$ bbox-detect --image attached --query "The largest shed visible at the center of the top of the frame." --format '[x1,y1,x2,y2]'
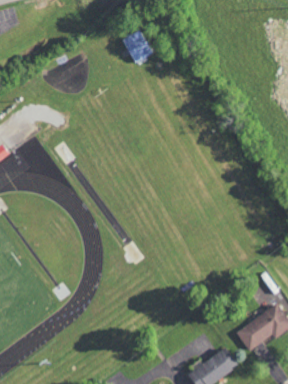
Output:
[124,30,156,64]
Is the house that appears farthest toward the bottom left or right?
right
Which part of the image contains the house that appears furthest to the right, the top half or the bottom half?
bottom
